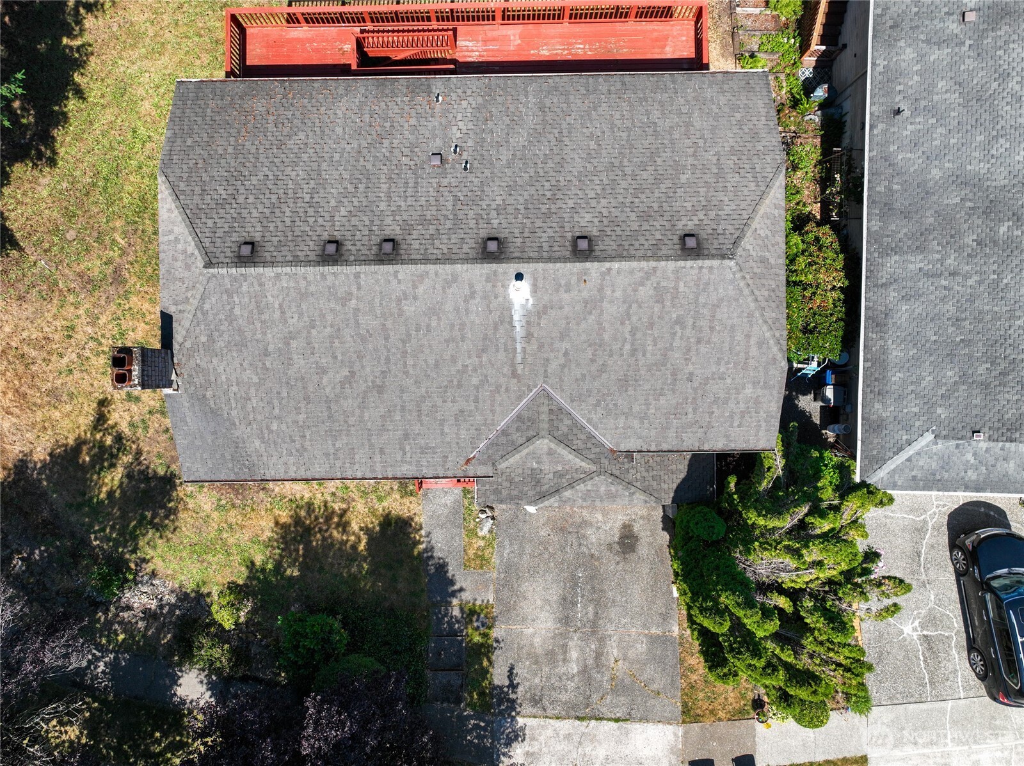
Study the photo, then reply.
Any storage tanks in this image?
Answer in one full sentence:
No, no storage tank is visible in the view.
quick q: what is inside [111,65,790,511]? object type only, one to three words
house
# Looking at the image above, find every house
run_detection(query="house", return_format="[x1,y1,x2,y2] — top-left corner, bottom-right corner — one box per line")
[836,0,1024,499]
[111,65,790,511]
